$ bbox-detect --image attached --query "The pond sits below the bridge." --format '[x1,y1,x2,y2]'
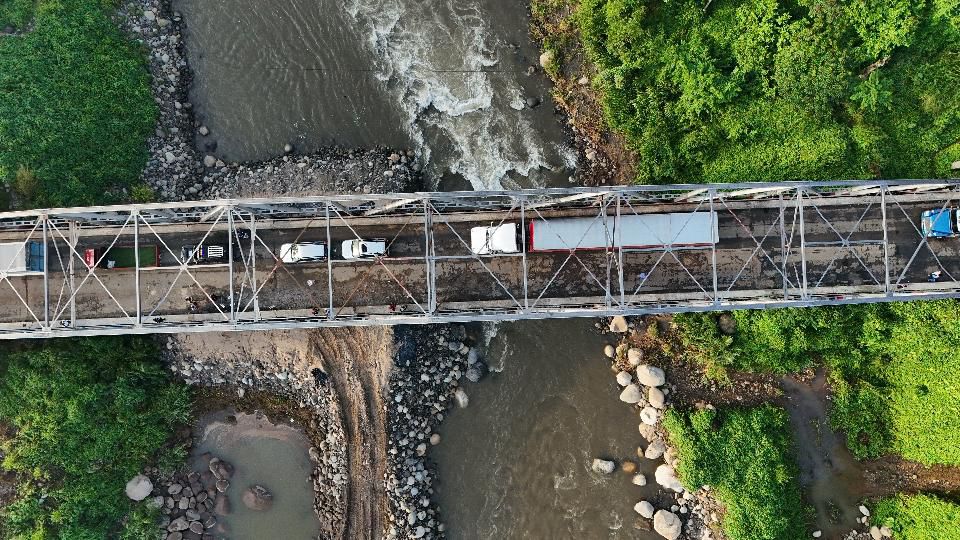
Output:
[199,423,316,540]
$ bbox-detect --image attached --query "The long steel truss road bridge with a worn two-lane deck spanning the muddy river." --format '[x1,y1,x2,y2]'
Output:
[0,178,960,339]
